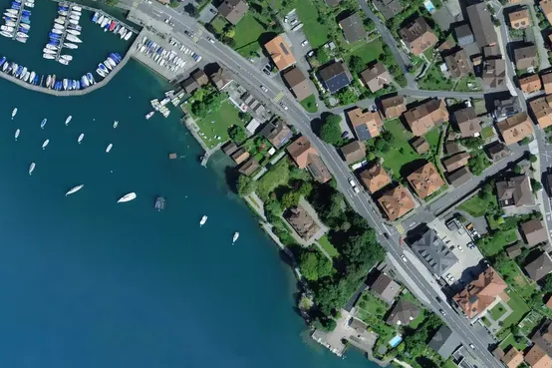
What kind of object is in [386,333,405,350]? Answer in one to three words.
swimming pool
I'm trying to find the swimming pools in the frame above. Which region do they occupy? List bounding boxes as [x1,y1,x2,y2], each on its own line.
[386,333,405,350]
[422,0,436,15]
